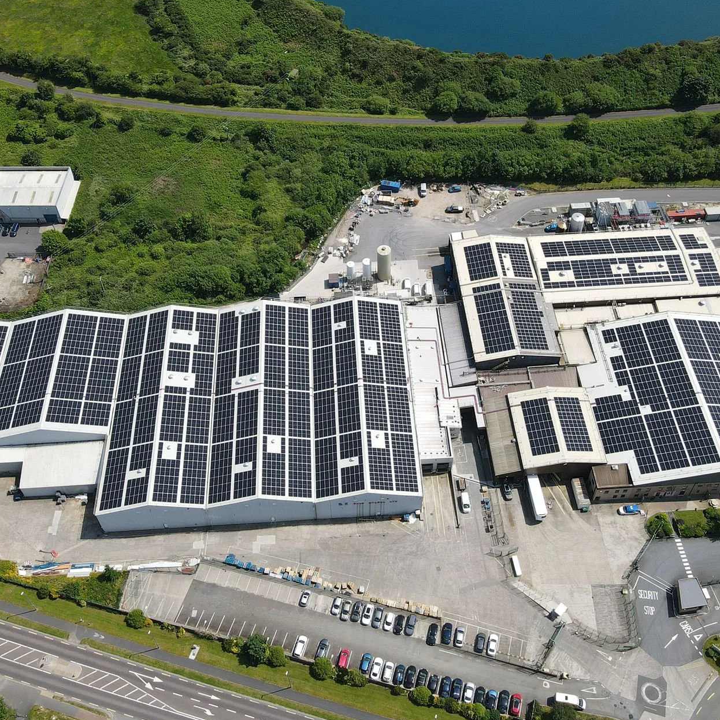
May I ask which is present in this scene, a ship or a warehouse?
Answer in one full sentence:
I can see a warehouse in this picture.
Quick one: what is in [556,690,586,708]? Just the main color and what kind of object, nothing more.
white vehicle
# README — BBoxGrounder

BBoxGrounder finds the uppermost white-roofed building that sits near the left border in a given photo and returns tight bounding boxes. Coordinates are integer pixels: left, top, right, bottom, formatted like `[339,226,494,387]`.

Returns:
[0,168,82,227]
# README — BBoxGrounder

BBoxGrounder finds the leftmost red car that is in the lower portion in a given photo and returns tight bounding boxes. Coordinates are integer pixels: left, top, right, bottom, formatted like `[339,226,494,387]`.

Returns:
[336,647,349,667]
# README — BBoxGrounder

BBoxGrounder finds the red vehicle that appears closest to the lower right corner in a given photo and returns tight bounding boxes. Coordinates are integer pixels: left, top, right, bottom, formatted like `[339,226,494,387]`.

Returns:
[511,691,524,718]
